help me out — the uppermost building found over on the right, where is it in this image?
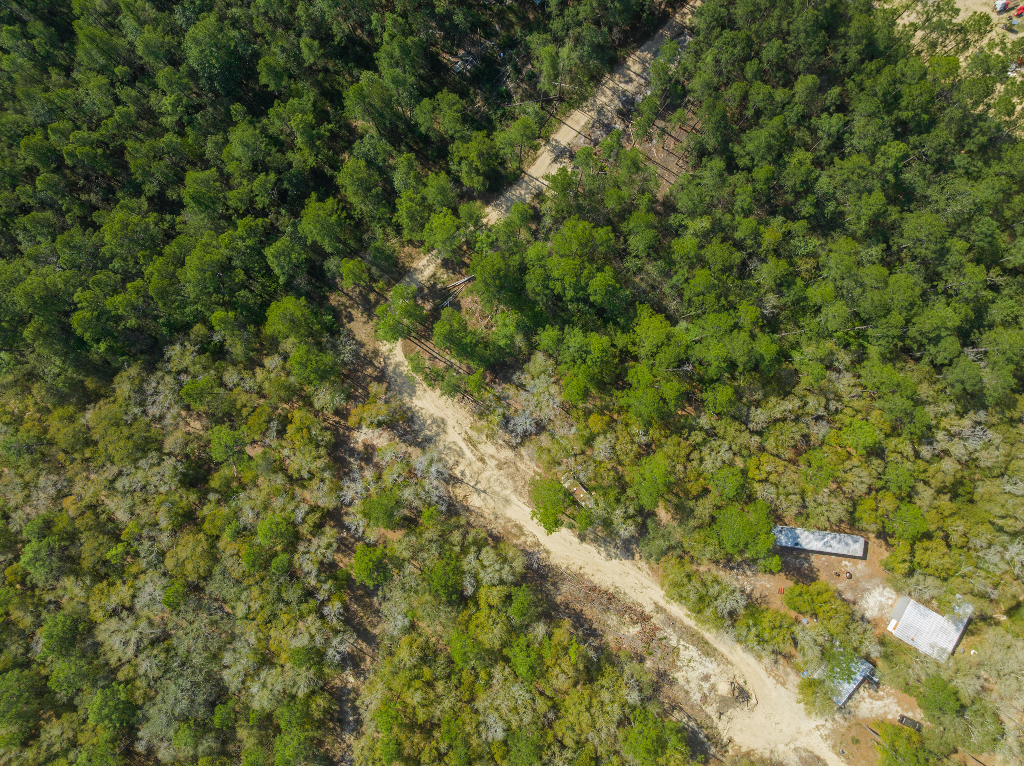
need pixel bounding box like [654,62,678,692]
[775,525,865,556]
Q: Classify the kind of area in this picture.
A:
forest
